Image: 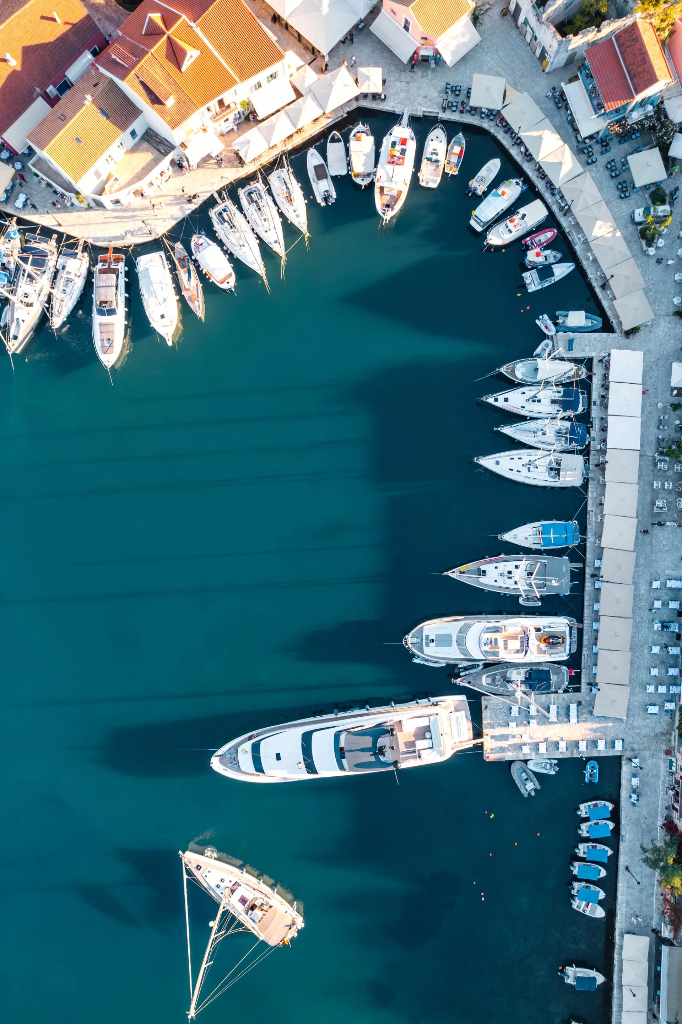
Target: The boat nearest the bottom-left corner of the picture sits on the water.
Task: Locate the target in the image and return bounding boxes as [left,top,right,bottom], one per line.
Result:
[179,848,302,1018]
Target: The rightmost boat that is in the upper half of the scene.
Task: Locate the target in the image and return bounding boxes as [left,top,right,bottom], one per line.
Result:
[556,310,602,333]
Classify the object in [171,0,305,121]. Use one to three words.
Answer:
building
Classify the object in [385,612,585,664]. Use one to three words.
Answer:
boat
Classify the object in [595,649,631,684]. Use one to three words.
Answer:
umbrella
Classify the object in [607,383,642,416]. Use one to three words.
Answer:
umbrella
